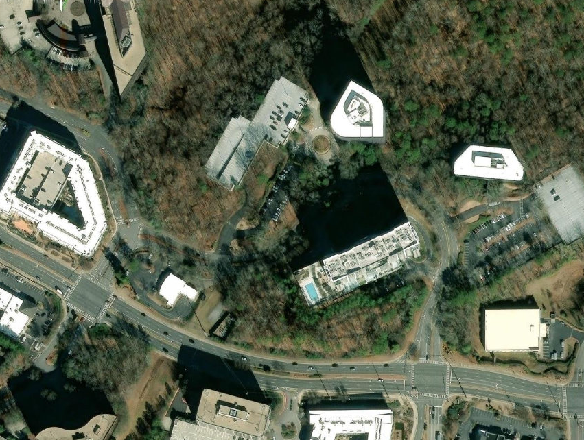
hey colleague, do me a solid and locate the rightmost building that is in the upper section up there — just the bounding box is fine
[453,146,524,182]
